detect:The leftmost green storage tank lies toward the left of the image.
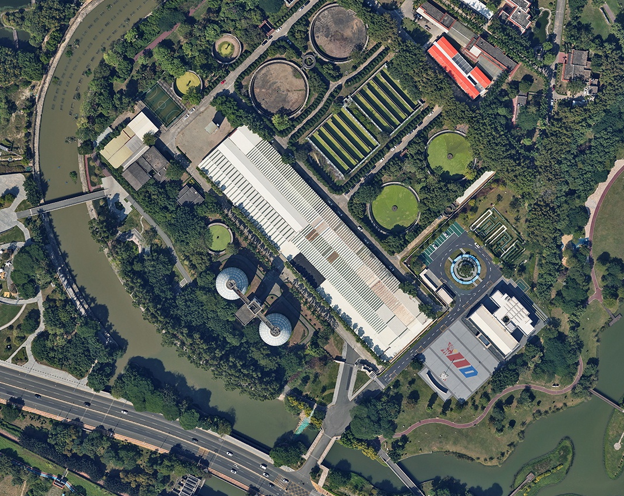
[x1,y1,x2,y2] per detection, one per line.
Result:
[206,223,235,251]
